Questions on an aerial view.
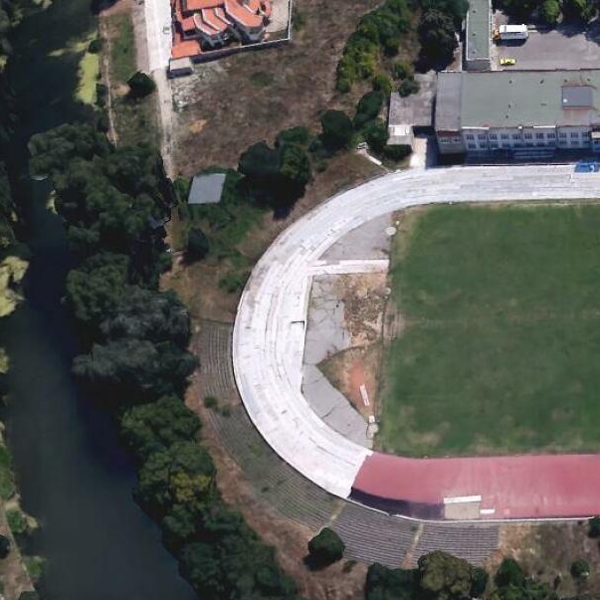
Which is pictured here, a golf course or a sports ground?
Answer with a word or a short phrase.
sports ground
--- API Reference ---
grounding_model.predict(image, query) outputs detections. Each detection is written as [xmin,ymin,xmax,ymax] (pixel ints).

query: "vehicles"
[500,56,516,65]
[496,27,528,43]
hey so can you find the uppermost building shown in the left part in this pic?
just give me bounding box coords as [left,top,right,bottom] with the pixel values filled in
[172,0,273,61]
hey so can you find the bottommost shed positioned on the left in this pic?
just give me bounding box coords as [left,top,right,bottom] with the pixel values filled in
[188,173,228,209]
